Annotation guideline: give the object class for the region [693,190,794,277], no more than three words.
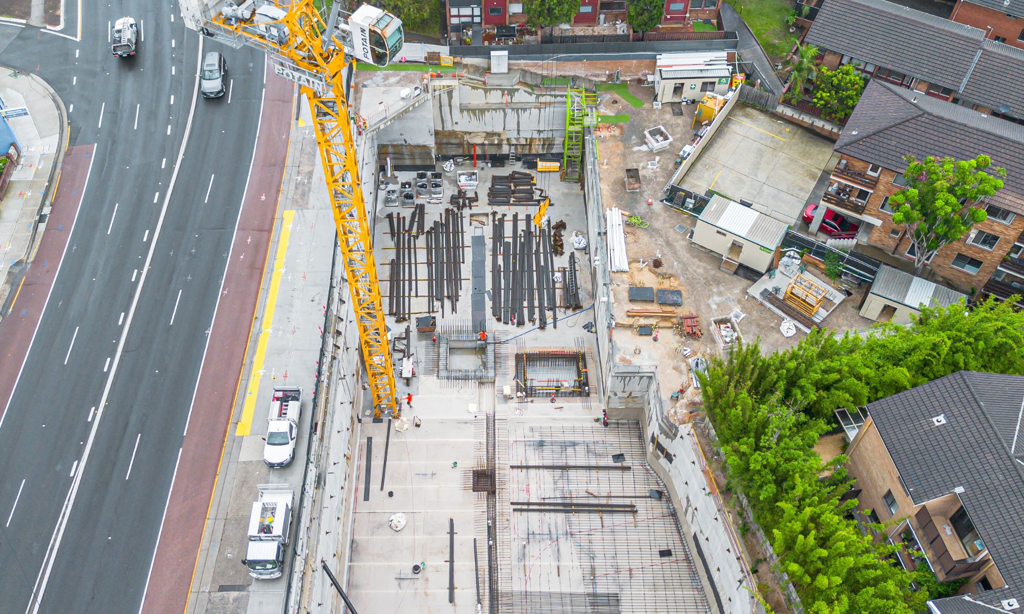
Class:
shed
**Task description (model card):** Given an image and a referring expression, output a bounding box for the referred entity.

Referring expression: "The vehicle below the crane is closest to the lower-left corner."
[234,484,292,585]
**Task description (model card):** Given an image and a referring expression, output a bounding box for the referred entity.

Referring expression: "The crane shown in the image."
[170,0,410,420]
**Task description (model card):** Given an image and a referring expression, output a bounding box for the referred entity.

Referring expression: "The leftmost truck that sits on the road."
[107,17,135,54]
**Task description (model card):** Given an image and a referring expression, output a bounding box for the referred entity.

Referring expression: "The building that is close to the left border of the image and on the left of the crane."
[0,102,29,155]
